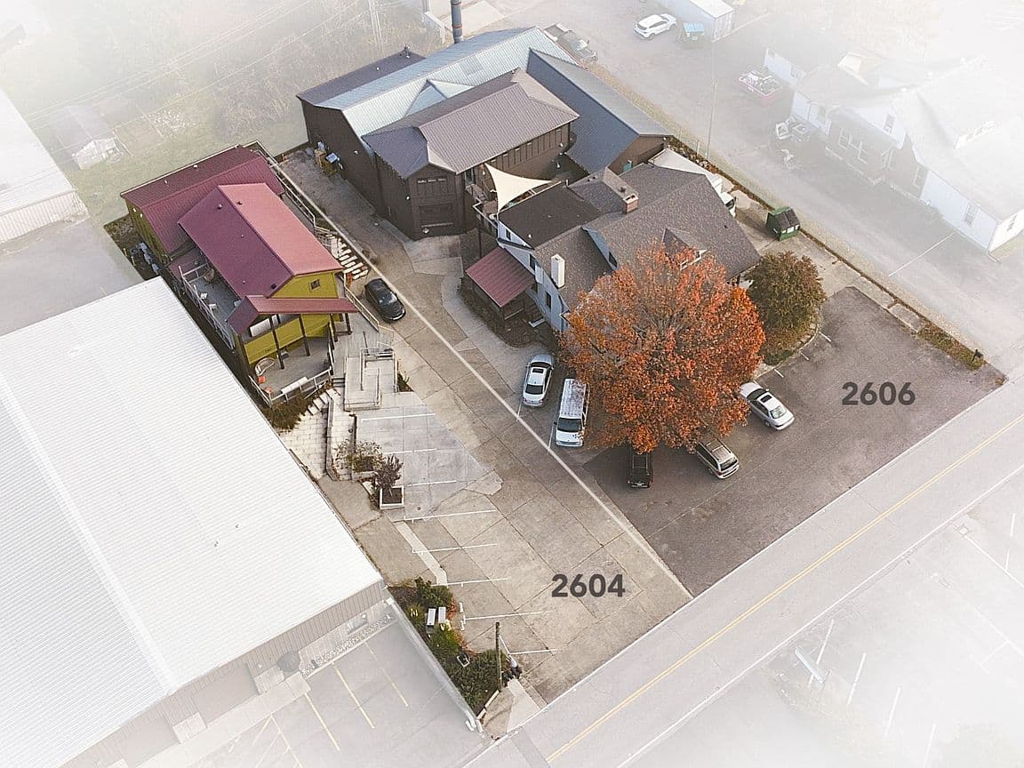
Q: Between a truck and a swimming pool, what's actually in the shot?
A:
truck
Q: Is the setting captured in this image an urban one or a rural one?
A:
urban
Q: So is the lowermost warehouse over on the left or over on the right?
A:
left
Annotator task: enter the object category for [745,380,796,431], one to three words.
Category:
car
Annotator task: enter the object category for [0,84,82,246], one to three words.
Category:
building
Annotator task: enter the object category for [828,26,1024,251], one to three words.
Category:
house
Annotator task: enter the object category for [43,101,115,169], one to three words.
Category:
shed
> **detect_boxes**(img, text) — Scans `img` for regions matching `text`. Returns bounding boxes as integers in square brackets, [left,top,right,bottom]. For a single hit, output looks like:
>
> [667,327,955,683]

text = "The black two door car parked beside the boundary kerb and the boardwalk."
[366,276,408,321]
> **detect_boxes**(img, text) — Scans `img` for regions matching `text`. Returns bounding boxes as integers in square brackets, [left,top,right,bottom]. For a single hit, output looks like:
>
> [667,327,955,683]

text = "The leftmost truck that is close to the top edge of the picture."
[544,25,593,61]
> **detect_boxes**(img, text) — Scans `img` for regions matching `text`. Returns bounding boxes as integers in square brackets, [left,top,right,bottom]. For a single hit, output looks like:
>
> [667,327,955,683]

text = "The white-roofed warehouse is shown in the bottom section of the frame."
[0,278,386,768]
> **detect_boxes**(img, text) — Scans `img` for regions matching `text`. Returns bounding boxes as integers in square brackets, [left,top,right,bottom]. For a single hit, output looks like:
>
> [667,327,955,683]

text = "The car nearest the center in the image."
[522,354,554,406]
